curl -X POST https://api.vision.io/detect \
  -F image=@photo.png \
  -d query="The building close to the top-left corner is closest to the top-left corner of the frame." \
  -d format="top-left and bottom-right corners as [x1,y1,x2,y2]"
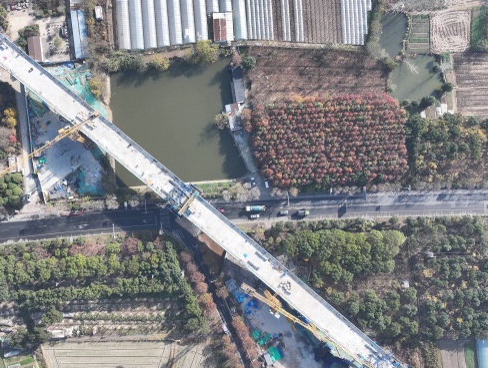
[26,34,45,62]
